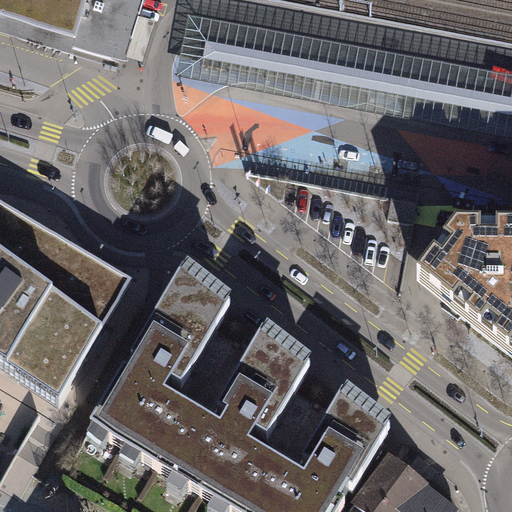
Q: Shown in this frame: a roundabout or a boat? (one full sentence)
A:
The one in the frame is a roundabout.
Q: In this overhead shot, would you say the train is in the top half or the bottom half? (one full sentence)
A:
The train sits in the top half of the picture.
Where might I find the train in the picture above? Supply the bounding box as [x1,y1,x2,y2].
[490,66,512,88]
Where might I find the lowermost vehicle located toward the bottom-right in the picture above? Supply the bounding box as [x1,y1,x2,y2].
[448,431,469,451]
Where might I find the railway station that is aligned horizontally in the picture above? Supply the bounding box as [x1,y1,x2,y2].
[167,0,512,136]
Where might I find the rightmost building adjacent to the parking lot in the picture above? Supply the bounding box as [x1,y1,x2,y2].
[416,210,512,357]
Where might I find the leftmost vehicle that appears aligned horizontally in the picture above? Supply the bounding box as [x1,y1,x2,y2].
[8,115,34,130]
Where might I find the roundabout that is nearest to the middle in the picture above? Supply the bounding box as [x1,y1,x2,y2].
[76,114,210,248]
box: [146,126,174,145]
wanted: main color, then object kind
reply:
white vehicle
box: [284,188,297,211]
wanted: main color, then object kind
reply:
black vehicle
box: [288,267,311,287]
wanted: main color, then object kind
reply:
white car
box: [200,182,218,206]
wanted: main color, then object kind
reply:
black car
